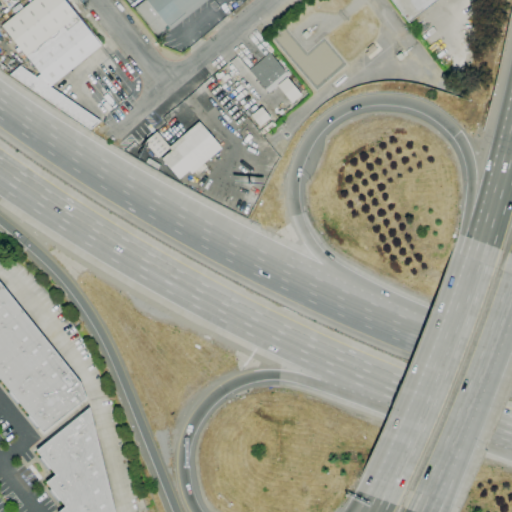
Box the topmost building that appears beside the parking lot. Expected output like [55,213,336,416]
[0,279,89,434]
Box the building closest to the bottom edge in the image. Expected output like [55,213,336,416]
[38,406,117,512]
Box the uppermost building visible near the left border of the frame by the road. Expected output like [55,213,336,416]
[2,0,103,86]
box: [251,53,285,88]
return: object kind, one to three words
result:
building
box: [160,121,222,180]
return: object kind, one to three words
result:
building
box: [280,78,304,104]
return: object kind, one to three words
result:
shed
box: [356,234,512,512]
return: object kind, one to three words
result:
bridge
